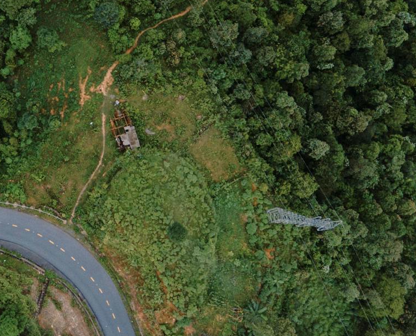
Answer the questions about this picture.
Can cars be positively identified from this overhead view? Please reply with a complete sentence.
No, there's no car here.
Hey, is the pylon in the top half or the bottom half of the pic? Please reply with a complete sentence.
You can find the pylon in the bottom half.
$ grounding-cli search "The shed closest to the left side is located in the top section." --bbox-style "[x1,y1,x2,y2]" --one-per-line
[106,111,140,152]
